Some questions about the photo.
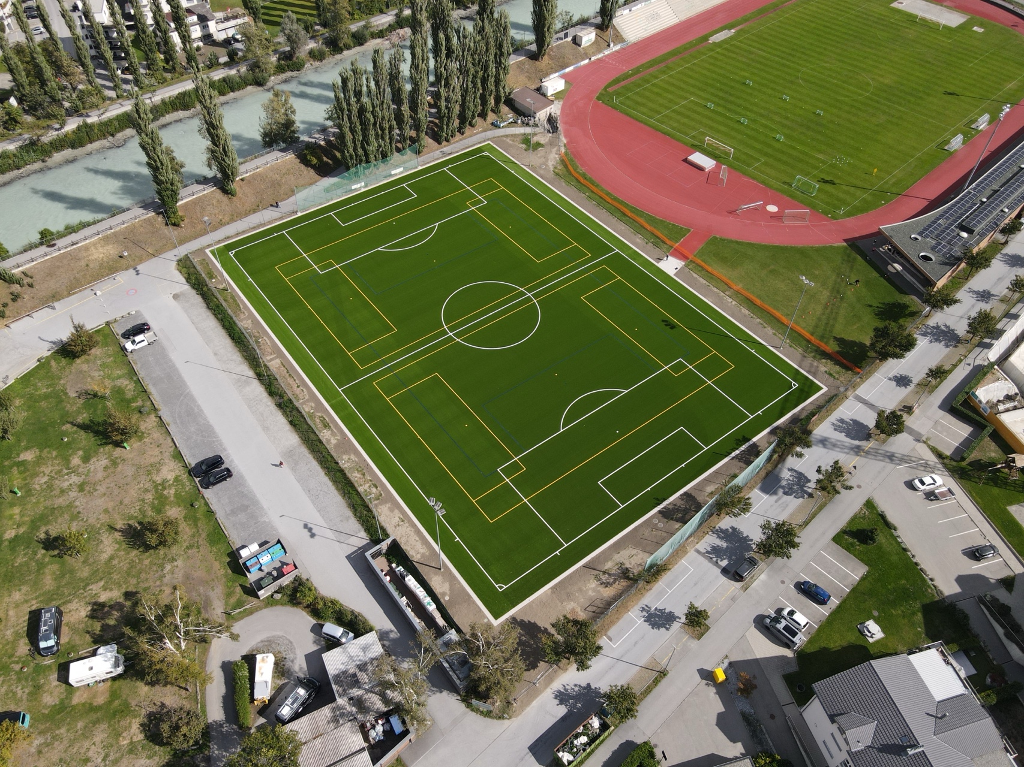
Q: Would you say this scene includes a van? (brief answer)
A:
Yes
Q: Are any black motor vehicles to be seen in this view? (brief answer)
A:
Yes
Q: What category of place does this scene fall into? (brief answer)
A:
sports ground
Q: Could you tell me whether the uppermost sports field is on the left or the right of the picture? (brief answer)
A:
right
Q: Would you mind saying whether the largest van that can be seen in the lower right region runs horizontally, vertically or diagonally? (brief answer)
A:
diagonally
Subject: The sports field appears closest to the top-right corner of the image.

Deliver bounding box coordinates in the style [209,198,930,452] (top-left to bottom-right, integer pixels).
[596,0,1024,220]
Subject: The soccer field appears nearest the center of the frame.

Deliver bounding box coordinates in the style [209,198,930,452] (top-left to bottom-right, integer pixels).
[207,142,826,619]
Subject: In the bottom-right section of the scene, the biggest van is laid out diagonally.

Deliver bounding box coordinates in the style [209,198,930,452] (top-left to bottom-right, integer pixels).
[763,617,805,653]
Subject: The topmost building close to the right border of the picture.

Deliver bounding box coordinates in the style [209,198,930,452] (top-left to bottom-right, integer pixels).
[879,139,1024,300]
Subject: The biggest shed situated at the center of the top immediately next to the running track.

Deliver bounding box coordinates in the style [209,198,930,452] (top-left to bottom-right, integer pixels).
[512,85,554,123]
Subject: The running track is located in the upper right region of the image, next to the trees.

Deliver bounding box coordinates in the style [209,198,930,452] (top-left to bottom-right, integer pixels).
[558,0,1024,261]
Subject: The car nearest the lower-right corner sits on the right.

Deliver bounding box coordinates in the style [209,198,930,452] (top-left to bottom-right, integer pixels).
[970,544,1001,563]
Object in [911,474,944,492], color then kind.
white car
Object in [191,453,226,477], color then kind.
black car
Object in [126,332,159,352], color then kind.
white vehicle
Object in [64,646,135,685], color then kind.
white camper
